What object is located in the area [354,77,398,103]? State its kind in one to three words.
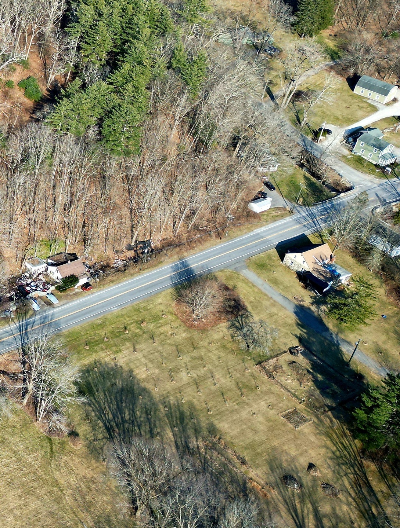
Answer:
barn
